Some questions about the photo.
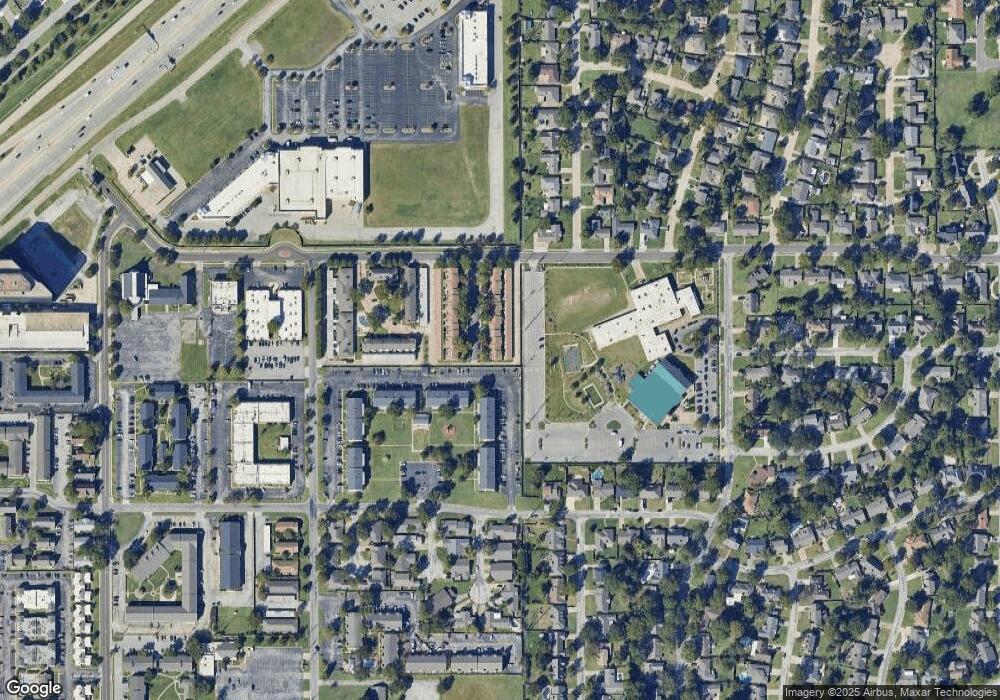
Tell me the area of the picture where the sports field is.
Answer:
center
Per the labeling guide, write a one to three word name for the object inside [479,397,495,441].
building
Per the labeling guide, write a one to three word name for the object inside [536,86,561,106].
house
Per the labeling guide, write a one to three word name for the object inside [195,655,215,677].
building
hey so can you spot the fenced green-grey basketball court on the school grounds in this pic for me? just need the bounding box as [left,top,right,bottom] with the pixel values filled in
[562,343,583,372]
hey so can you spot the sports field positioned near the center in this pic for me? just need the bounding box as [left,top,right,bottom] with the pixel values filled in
[548,270,630,328]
